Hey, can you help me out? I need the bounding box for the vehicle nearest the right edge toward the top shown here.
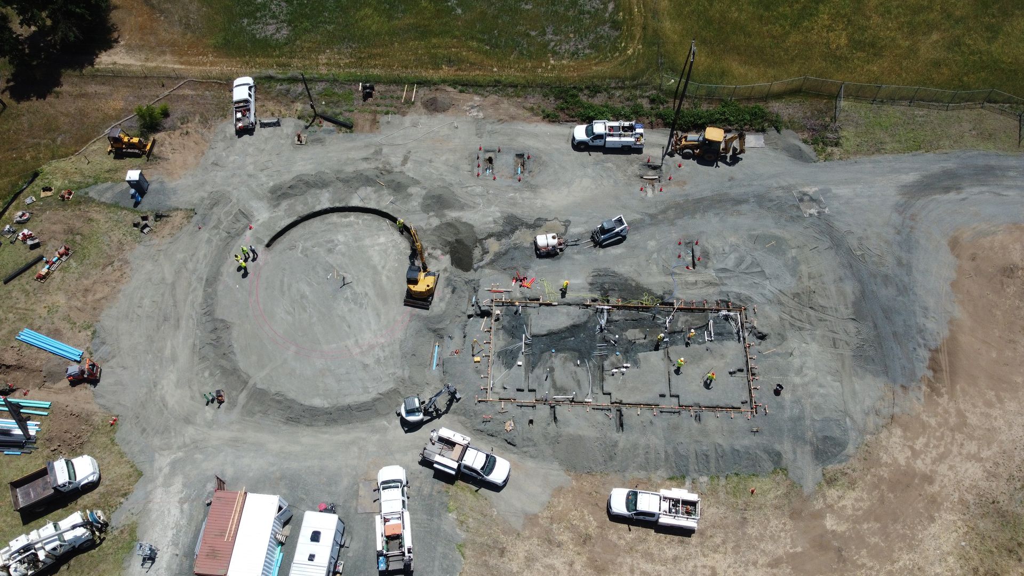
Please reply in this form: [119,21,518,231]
[669,124,744,161]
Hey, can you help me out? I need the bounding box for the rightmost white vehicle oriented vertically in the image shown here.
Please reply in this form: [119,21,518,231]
[371,468,414,576]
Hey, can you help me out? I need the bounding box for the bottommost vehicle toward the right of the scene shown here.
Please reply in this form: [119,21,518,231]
[607,484,699,531]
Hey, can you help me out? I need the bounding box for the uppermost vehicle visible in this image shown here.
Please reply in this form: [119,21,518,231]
[229,78,258,132]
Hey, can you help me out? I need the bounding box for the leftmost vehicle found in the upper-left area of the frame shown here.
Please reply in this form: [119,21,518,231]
[104,128,153,161]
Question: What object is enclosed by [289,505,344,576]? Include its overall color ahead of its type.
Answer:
white trailer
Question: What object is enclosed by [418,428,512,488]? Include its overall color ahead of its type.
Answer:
white truck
